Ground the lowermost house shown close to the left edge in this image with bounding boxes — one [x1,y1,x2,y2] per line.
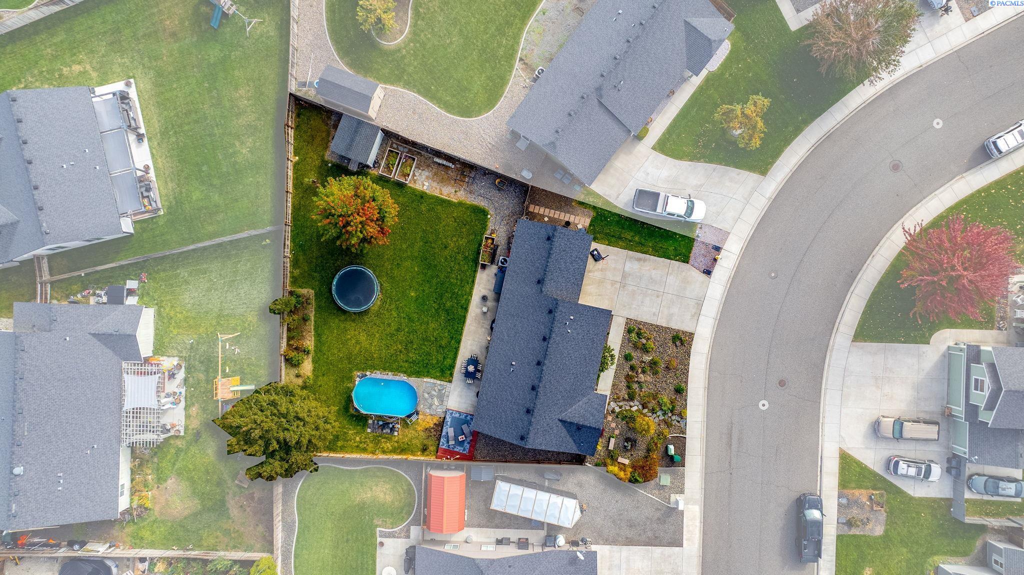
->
[0,302,158,531]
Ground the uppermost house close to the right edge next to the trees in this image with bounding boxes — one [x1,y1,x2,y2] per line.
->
[948,345,1024,466]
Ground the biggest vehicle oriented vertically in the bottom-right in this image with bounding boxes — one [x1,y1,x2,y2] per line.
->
[793,491,827,567]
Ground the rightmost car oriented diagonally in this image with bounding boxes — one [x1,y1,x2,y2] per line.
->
[977,118,1024,161]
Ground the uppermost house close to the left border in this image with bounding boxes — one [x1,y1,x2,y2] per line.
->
[0,86,134,266]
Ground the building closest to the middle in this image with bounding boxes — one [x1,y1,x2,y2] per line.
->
[475,220,611,456]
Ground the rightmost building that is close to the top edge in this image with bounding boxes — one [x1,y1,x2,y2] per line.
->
[507,0,735,186]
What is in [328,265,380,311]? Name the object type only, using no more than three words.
trampoline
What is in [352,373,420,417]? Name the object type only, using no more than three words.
swimming pool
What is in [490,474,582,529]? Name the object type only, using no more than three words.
greenhouse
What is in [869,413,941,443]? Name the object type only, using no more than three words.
car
